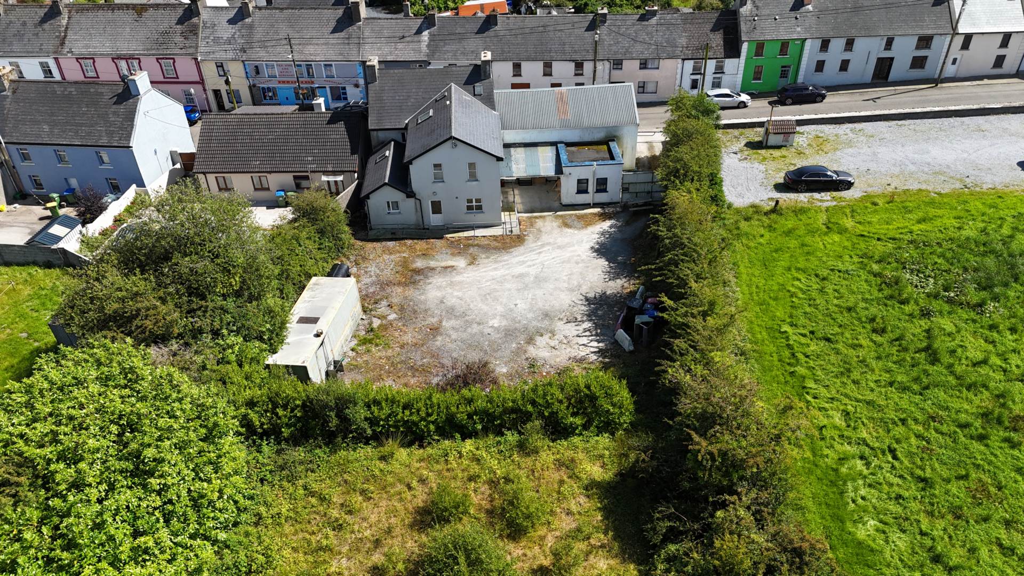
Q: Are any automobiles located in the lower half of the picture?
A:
No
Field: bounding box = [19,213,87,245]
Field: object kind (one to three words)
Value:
shed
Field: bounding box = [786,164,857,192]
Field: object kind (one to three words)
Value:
car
